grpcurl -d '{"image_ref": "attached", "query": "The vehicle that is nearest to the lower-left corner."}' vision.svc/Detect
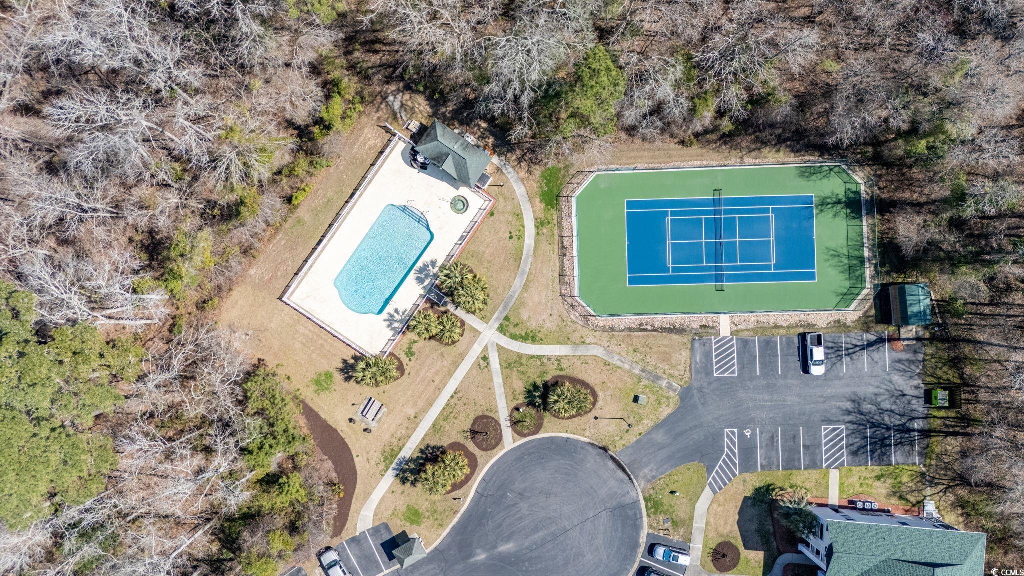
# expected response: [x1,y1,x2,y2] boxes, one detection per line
[320,547,350,576]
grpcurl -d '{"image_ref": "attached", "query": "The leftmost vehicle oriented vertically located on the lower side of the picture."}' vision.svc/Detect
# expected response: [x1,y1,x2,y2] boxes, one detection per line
[805,331,828,376]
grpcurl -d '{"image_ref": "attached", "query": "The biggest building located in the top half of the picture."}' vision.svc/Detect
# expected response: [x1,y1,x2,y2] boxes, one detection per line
[415,119,492,188]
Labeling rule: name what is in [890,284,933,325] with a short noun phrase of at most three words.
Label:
shed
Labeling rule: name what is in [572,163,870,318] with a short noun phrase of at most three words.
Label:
tennis court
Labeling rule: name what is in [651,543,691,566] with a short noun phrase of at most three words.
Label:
car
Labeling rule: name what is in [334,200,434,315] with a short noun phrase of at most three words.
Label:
swimming pool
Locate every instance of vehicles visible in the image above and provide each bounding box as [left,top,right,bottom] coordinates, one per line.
[644,566,681,576]
[320,547,350,576]
[805,331,828,376]
[651,543,691,566]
